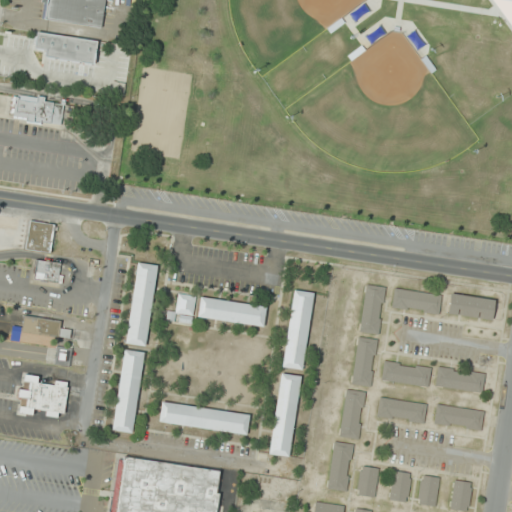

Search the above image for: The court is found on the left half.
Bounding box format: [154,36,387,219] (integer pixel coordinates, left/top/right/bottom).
[130,66,193,160]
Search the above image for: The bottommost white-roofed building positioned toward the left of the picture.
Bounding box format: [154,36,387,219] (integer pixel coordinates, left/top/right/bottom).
[111,459,222,512]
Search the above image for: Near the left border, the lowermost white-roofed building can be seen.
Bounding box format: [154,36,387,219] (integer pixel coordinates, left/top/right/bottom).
[18,374,69,418]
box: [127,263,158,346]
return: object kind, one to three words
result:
building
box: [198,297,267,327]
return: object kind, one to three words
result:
building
